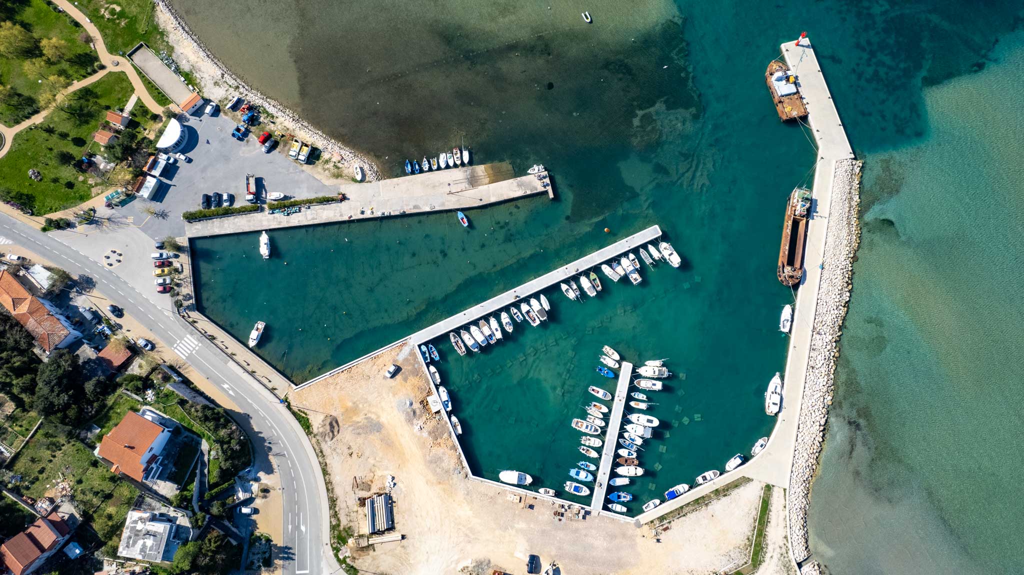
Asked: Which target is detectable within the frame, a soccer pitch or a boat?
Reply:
boat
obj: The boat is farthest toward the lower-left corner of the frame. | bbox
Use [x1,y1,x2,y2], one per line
[248,320,266,347]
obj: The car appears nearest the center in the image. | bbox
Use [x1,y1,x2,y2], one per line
[384,363,399,380]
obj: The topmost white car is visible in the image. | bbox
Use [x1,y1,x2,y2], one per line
[203,101,217,116]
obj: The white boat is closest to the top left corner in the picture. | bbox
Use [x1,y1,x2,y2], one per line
[226,95,240,109]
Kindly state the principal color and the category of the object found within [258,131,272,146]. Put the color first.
red car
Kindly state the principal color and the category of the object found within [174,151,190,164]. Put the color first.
white vehicle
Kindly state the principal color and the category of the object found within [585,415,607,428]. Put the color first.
white boat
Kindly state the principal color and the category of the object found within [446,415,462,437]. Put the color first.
white boat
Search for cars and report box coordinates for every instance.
[152,241,170,249]
[529,553,537,575]
[235,506,257,516]
[200,192,210,208]
[203,101,217,116]
[157,151,176,166]
[152,268,169,277]
[137,337,154,351]
[223,192,231,207]
[107,304,123,318]
[212,192,220,207]
[384,363,399,380]
[262,137,276,154]
[155,285,173,293]
[174,151,190,164]
[153,259,172,267]
[153,277,173,286]
[5,253,23,262]
[258,131,272,146]
[148,251,169,260]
